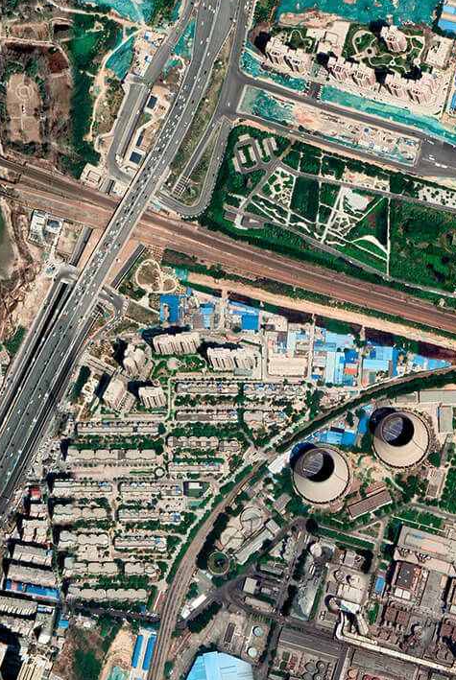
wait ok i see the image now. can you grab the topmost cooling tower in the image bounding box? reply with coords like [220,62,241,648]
[370,409,430,468]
